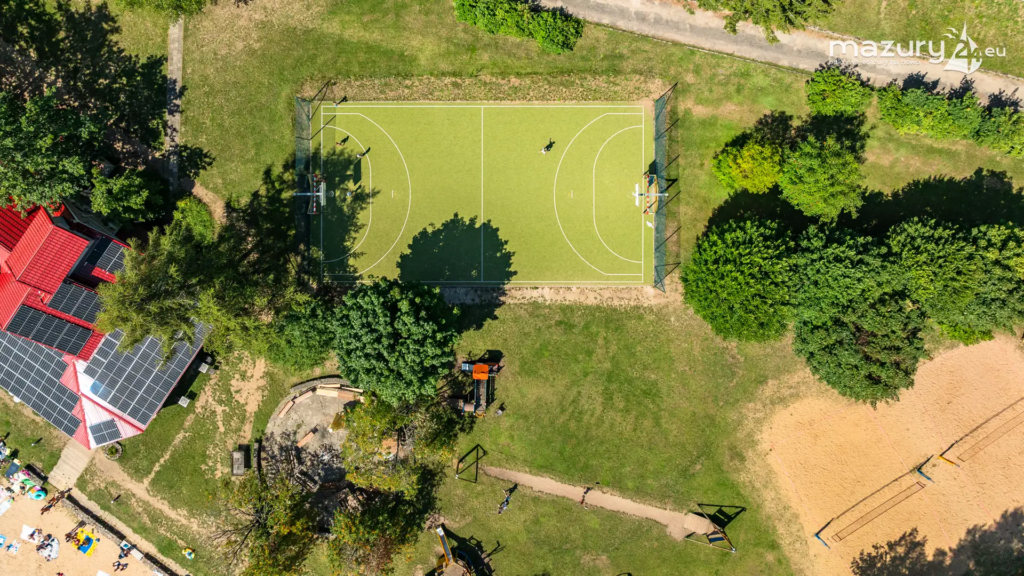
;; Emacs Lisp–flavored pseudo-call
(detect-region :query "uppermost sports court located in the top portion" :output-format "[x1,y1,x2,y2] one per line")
[310,100,656,288]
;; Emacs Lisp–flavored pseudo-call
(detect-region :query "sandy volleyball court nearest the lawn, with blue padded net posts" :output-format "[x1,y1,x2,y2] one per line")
[772,405,960,576]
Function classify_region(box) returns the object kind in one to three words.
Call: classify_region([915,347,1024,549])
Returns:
sports court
